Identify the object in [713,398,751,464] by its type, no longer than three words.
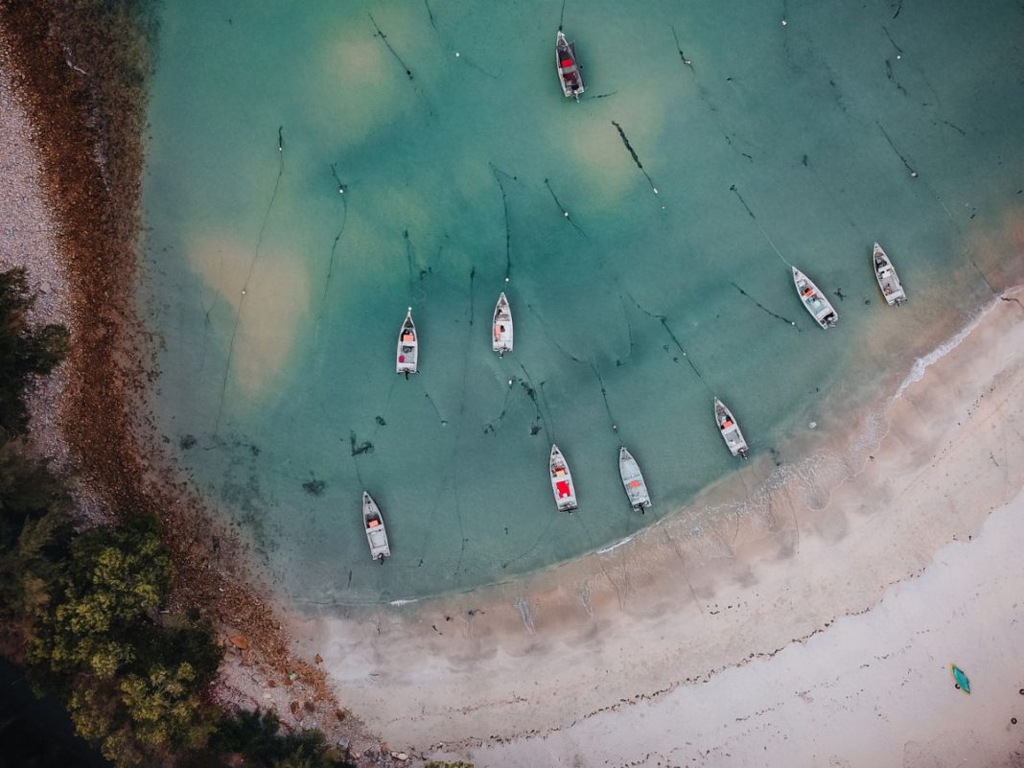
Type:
boat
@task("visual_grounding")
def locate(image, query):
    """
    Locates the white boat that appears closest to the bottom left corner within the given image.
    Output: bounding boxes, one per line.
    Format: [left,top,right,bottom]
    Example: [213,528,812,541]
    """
[362,492,391,567]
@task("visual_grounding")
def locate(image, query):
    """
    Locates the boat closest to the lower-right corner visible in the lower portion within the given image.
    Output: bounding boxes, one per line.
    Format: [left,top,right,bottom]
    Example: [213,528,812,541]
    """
[956,667,976,696]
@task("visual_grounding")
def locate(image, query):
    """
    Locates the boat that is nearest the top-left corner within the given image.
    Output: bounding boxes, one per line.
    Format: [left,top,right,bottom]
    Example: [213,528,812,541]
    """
[396,309,418,385]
